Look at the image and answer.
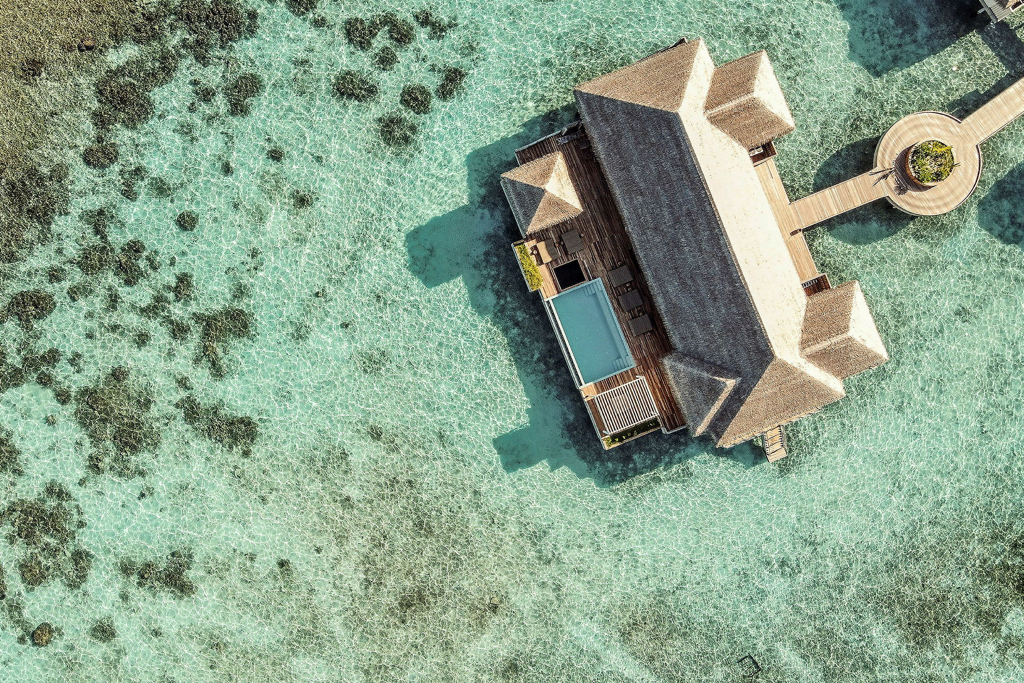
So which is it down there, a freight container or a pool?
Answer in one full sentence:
It is a pool that can be seen here.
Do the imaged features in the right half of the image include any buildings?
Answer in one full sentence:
Yes, you'll find a building in the right half of the image.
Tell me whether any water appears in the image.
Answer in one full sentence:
Yes, some water is visible.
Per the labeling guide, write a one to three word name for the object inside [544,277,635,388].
swimming pool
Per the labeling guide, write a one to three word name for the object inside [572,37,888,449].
house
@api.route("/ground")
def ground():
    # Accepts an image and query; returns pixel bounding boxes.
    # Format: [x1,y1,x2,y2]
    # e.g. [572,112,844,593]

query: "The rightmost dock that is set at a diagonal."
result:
[958,74,1024,147]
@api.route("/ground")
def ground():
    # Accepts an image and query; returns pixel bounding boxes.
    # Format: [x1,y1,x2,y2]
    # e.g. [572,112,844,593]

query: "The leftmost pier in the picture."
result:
[789,166,889,230]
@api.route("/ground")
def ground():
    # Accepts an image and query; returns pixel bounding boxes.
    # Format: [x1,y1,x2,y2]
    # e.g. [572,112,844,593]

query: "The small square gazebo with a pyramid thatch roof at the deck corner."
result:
[501,152,584,236]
